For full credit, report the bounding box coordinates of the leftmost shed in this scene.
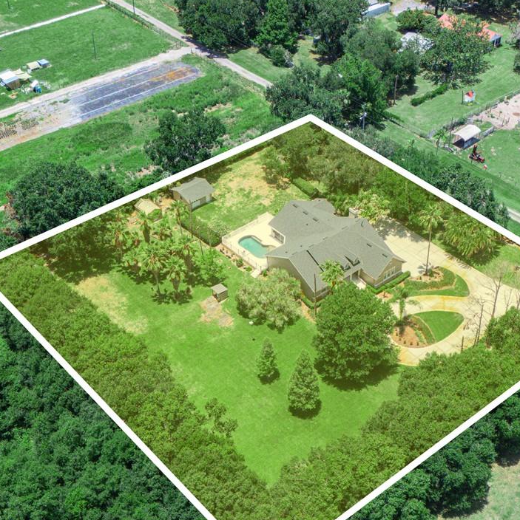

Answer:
[0,68,22,88]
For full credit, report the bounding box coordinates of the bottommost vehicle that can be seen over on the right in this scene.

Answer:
[470,141,485,159]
